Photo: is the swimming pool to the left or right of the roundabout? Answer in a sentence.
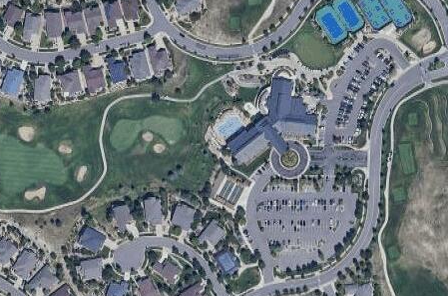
Relative to the roundabout, the swimming pool is on the left.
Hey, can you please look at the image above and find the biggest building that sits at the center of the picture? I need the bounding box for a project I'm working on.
[224,76,318,165]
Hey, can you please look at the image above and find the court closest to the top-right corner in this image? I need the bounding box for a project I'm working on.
[380,0,412,27]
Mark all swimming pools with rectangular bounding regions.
[204,103,258,182]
